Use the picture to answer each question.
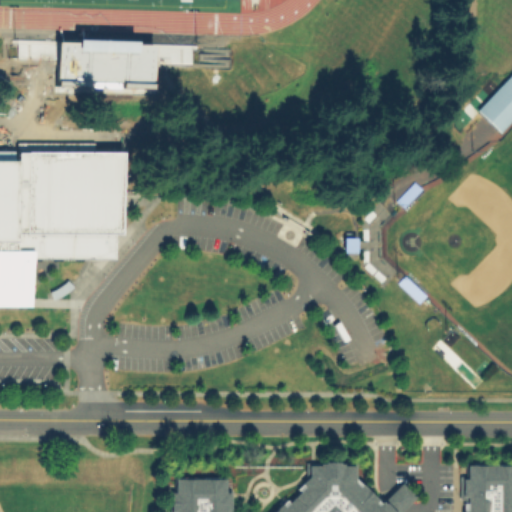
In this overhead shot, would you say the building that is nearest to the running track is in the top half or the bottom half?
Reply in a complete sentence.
It is in the top half that the building that is nearest to the running track appears.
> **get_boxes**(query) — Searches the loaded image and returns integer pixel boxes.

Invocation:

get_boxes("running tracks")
[0,0,317,35]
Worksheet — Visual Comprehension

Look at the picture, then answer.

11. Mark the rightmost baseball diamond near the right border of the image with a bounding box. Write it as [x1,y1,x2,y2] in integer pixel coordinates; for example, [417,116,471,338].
[400,173,512,308]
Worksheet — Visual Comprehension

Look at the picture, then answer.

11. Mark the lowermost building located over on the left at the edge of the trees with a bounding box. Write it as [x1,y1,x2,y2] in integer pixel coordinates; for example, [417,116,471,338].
[173,479,234,512]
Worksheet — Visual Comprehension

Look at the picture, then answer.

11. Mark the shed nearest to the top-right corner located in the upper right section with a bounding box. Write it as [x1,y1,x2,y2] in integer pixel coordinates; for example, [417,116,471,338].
[478,72,512,134]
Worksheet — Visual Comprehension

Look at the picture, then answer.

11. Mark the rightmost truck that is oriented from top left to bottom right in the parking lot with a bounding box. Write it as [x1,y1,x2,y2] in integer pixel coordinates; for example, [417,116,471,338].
[329,314,354,344]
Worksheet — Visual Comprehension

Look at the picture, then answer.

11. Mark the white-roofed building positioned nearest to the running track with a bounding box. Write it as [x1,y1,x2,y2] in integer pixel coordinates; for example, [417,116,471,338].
[11,40,197,95]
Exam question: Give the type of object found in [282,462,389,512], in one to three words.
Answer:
building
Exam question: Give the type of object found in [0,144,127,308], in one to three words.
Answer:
building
